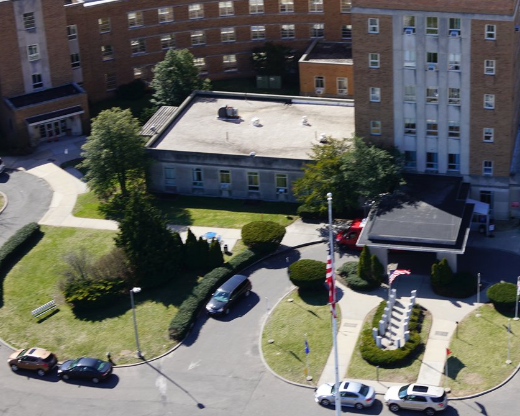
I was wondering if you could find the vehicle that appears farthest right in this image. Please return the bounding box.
[387,380,448,415]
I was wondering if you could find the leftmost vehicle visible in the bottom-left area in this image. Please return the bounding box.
[2,345,63,378]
